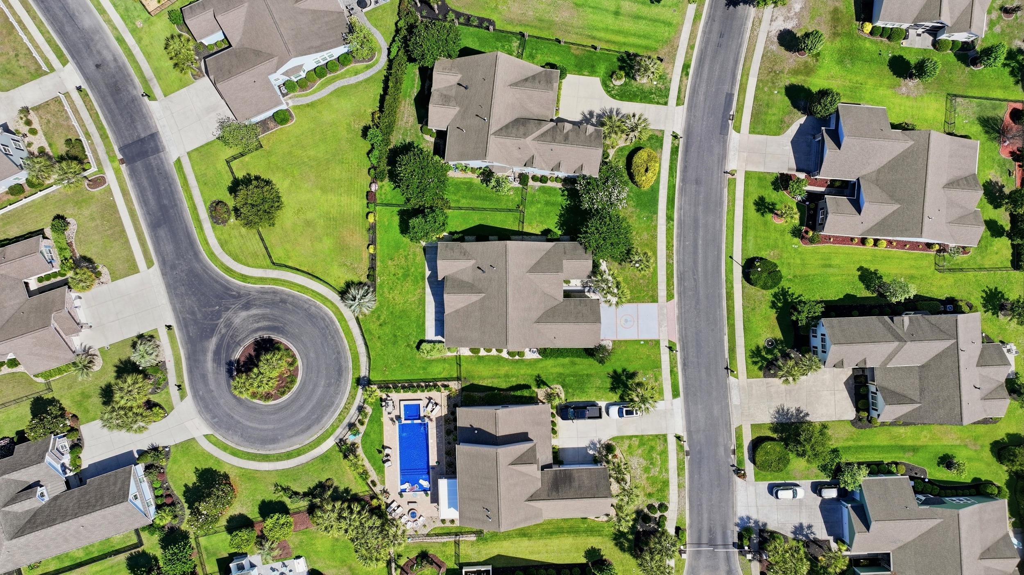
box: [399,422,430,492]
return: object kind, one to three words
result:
swimming pool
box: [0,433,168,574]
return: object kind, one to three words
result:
house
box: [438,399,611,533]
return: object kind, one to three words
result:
building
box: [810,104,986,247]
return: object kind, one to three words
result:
house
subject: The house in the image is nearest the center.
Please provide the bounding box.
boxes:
[436,239,603,350]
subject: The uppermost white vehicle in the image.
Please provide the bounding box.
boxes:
[608,406,643,423]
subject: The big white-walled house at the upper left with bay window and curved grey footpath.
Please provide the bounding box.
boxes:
[182,0,350,124]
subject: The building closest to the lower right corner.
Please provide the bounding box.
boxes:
[838,474,1023,575]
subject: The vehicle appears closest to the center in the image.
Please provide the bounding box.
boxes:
[559,406,602,424]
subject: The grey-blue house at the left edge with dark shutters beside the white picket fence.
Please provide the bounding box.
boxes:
[0,128,38,191]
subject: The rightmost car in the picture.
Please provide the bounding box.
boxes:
[816,485,849,502]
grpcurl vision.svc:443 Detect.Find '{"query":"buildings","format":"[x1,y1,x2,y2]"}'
[438,399,611,533]
[0,433,168,574]
[838,474,1023,575]
[0,236,93,382]
[868,0,986,45]
[436,239,603,350]
[182,0,350,124]
[810,310,1014,425]
[810,104,986,247]
[0,128,38,191]
[428,52,604,177]
[462,558,494,575]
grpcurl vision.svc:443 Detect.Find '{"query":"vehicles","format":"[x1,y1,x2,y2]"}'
[772,485,805,503]
[816,485,849,502]
[559,406,602,424]
[608,406,643,423]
